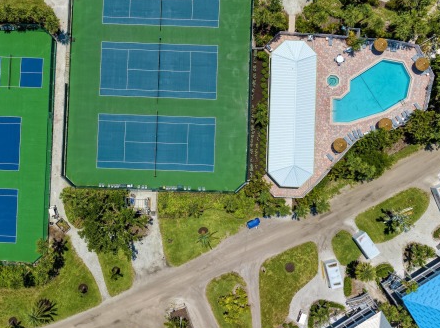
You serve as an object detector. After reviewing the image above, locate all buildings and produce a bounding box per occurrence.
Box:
[375,239,440,328]
[266,40,317,188]
[316,282,392,328]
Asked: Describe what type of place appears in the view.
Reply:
sports ground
